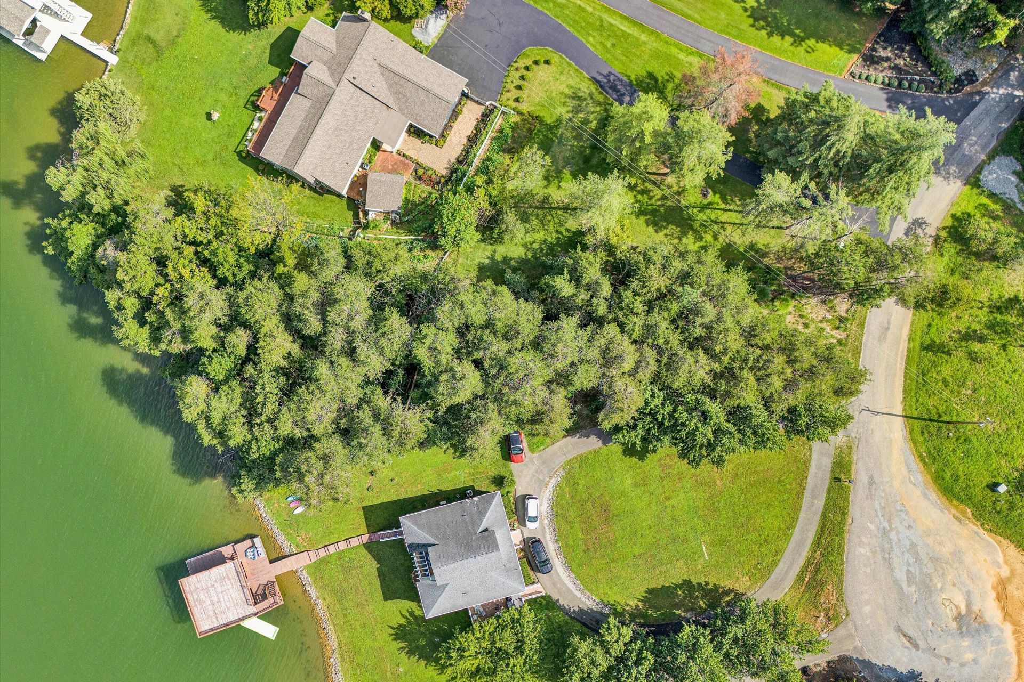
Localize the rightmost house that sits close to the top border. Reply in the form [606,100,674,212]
[259,11,468,196]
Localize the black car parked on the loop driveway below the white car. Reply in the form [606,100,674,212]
[529,539,551,575]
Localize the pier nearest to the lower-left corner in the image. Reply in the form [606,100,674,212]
[176,534,285,640]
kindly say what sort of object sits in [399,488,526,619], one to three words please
house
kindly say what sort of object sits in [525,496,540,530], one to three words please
car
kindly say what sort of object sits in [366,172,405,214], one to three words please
shed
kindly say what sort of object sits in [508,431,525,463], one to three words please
car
